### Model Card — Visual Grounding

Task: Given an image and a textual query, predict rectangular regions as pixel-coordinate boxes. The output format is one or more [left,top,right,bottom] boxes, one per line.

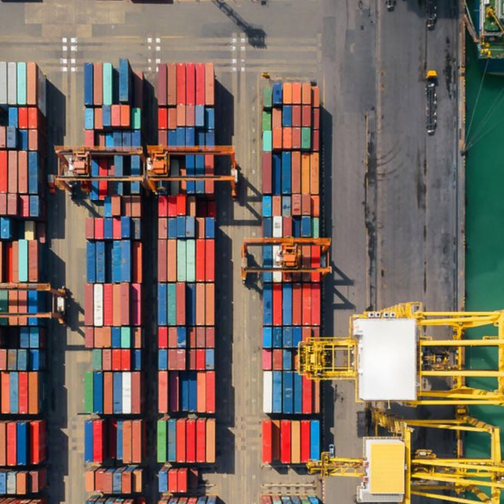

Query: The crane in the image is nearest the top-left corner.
[49,144,153,205]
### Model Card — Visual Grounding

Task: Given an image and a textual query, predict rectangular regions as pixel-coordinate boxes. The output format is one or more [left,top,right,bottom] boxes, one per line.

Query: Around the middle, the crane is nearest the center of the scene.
[235,235,333,289]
